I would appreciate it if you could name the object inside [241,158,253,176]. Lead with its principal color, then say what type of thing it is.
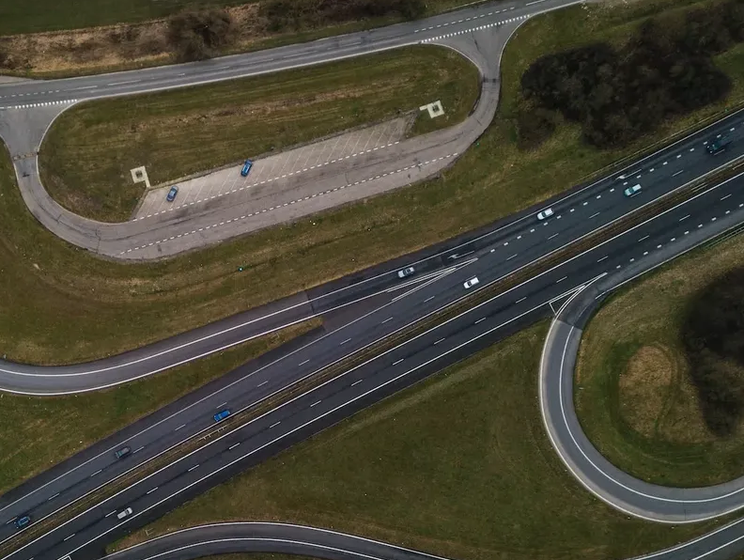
blue vehicle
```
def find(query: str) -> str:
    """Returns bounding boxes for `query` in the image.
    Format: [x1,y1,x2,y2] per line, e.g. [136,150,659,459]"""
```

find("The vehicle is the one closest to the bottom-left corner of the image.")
[13,515,31,528]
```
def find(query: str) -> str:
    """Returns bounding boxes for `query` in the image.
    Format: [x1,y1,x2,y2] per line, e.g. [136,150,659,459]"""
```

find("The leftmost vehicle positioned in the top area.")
[166,185,178,201]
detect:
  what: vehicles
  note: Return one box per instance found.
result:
[214,409,231,422]
[166,185,178,201]
[114,446,131,459]
[13,515,31,528]
[116,506,133,520]
[241,158,253,176]
[537,207,556,219]
[624,182,645,196]
[398,266,416,277]
[463,275,482,289]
